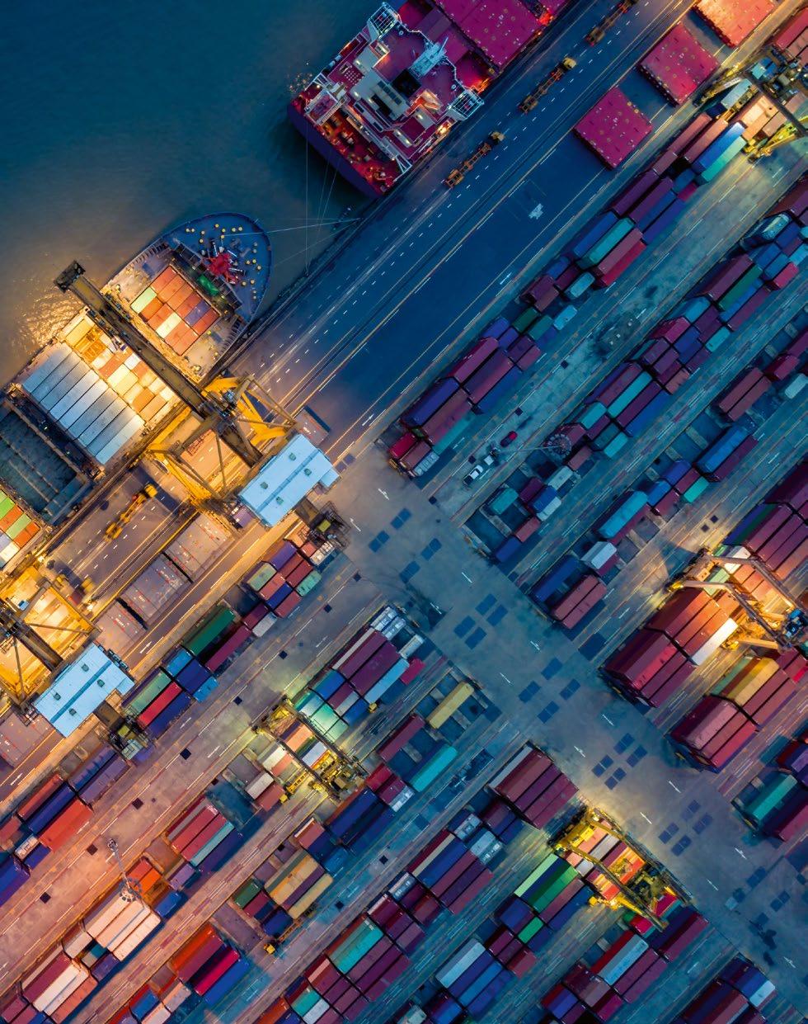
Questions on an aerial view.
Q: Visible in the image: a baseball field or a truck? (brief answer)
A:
truck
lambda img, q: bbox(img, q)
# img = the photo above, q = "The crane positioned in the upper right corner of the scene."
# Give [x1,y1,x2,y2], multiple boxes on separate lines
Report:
[694,25,808,165]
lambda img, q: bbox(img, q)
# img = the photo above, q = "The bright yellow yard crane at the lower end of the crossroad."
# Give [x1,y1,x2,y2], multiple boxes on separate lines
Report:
[546,801,707,942]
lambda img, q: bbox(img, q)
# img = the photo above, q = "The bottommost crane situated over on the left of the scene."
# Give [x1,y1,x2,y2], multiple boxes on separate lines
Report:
[249,690,383,817]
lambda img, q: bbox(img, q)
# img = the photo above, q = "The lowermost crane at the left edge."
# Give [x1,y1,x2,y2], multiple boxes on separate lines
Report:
[0,555,151,757]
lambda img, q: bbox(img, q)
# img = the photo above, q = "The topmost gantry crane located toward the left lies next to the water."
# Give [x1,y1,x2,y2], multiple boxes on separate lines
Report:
[49,246,354,550]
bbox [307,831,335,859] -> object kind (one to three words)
shipping container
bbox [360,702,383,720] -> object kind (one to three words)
vehicle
